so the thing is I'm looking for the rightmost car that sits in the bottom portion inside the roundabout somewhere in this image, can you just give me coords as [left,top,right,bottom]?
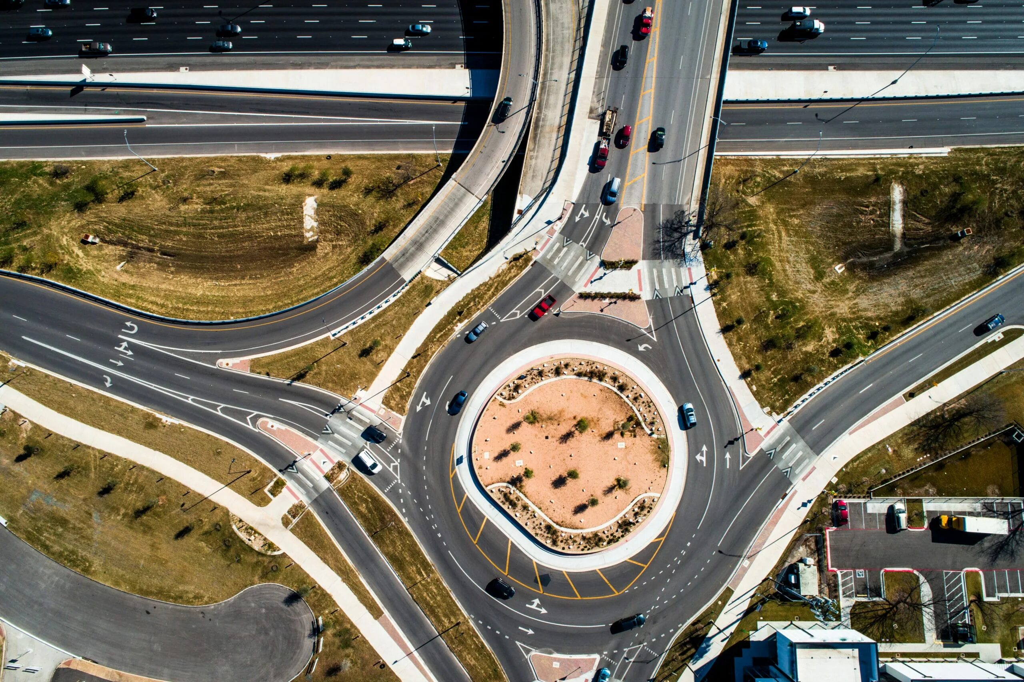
[683,403,697,427]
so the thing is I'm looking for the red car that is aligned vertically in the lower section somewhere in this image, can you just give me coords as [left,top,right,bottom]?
[835,501,849,524]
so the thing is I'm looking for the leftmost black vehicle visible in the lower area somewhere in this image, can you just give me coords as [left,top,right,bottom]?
[364,424,389,443]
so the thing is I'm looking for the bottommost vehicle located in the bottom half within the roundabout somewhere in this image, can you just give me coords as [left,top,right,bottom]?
[619,613,645,630]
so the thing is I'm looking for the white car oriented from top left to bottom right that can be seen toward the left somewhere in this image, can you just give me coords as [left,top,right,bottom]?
[359,450,383,473]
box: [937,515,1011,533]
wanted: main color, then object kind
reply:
white vehicle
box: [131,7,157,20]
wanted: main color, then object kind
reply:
black vehicle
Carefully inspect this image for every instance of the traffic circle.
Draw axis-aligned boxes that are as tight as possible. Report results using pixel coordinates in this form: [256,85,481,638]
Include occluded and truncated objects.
[385,298,776,667]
